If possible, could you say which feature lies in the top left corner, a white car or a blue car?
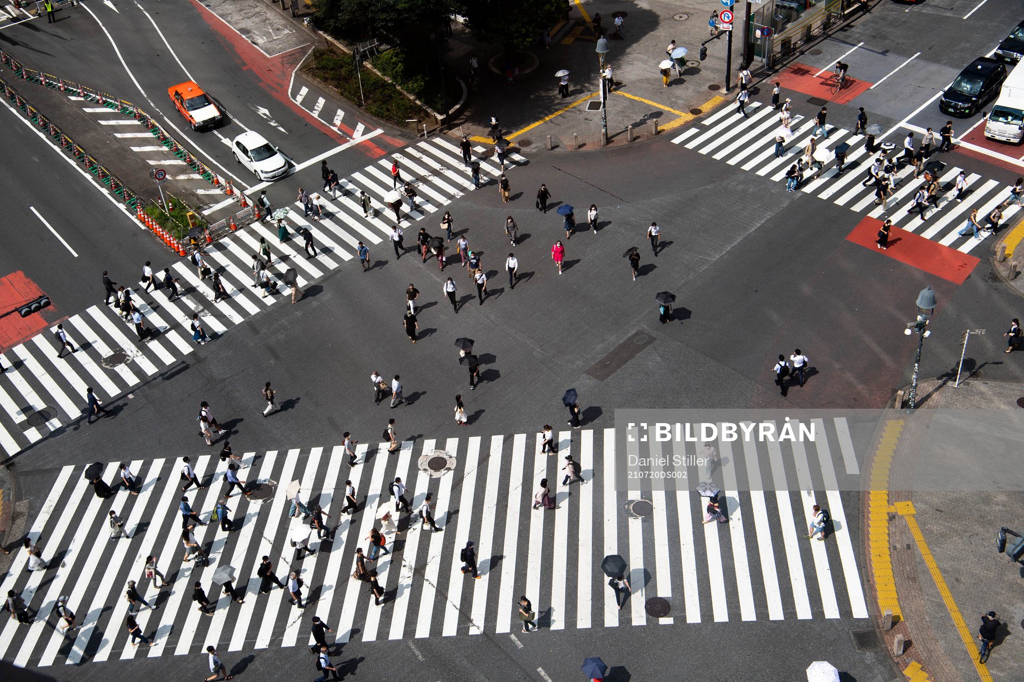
white car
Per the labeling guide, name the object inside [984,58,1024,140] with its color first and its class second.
white truck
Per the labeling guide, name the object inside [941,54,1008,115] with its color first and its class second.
black car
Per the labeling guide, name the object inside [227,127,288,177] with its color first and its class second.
white car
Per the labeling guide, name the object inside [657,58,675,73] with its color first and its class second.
white umbrella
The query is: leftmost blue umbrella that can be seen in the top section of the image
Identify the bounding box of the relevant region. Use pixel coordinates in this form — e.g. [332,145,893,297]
[556,208,575,223]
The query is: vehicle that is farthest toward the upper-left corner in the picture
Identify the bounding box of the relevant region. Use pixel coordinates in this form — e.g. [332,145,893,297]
[169,83,225,131]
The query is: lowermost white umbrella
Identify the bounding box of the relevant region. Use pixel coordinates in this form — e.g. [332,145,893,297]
[805,662,843,682]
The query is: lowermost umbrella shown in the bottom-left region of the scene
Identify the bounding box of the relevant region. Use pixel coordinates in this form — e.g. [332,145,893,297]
[218,566,242,591]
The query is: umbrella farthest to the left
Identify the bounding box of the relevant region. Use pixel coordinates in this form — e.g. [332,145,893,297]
[89,461,113,484]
